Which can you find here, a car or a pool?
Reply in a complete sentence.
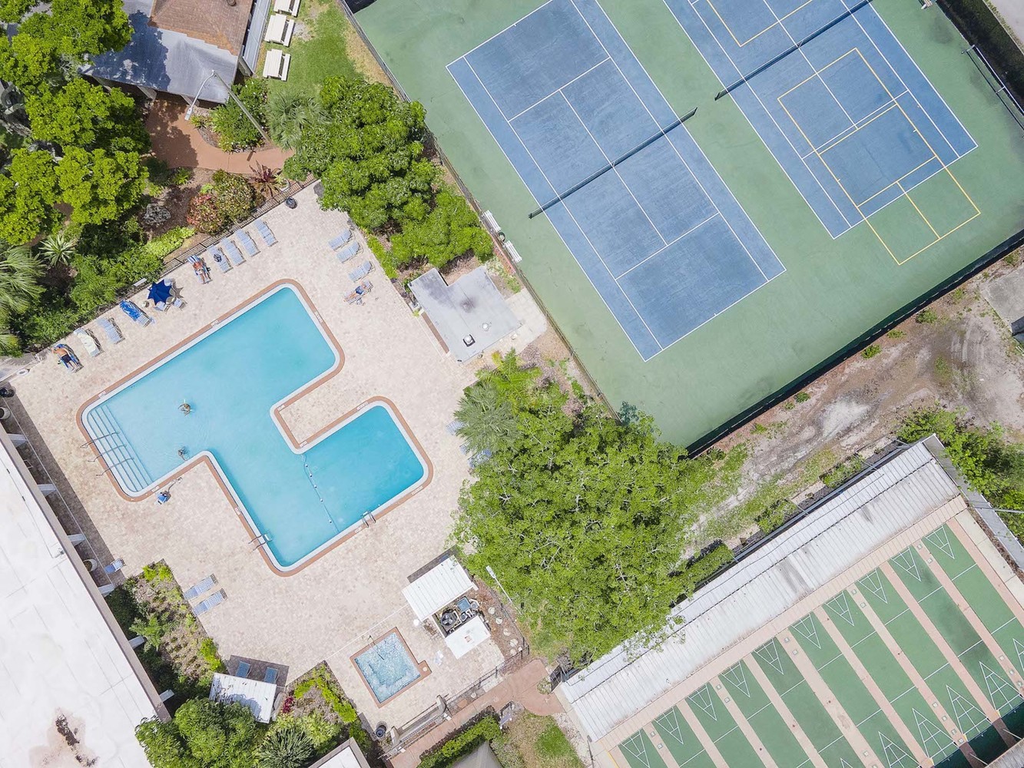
Visible in the photo is a pool.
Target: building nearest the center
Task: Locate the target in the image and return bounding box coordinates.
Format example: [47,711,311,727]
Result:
[409,267,523,362]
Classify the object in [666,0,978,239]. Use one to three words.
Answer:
tennis court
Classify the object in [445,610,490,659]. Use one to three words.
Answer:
shed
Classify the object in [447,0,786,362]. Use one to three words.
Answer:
tennis court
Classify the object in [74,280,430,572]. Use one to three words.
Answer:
swimming pool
